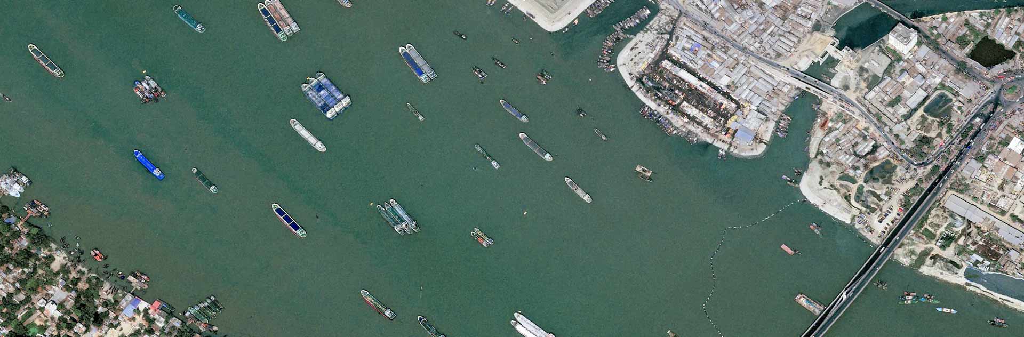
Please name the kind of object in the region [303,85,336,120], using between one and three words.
ship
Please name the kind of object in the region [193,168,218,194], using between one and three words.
ship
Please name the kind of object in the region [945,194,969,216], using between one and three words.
building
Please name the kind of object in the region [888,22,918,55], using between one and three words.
building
